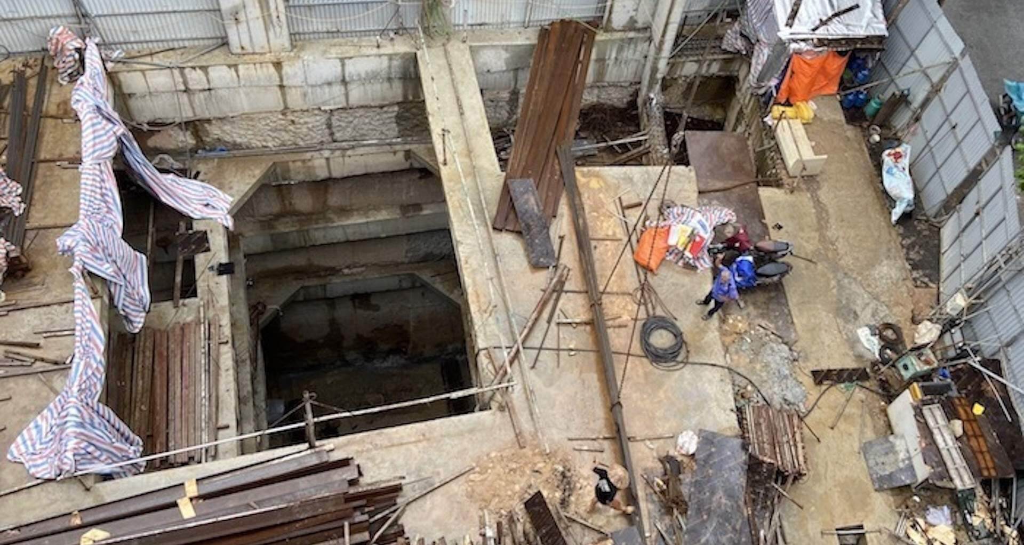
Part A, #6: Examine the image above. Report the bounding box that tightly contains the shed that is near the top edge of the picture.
[728,0,885,103]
